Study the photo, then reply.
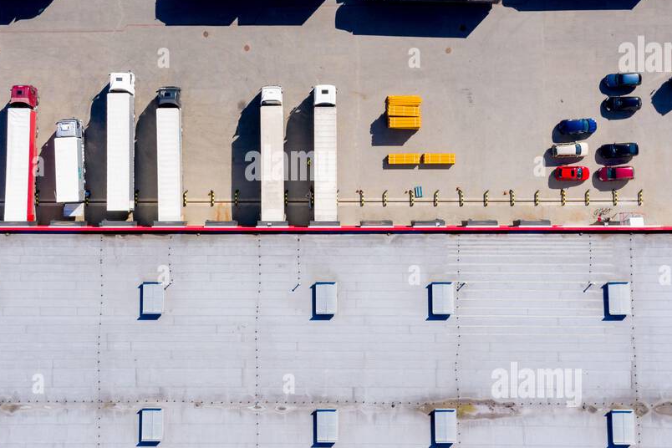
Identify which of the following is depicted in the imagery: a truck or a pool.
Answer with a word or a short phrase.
truck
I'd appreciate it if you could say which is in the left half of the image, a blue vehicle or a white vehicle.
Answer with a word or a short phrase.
white vehicle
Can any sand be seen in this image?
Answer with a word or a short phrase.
No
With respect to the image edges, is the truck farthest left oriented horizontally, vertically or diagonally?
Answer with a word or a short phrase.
vertically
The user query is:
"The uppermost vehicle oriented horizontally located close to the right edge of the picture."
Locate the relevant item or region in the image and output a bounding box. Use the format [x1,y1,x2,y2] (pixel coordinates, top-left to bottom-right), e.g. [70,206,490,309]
[604,70,642,88]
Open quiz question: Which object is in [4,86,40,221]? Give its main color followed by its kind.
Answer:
white truck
